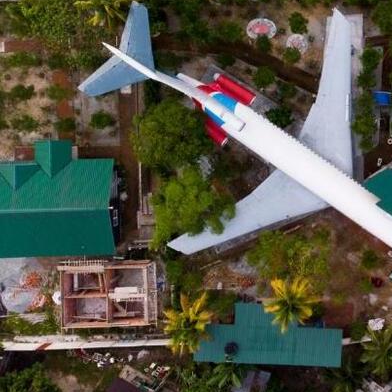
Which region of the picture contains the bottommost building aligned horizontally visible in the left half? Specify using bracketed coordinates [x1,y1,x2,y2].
[99,365,161,392]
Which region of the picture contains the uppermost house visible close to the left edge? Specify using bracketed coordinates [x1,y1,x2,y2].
[0,139,122,256]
